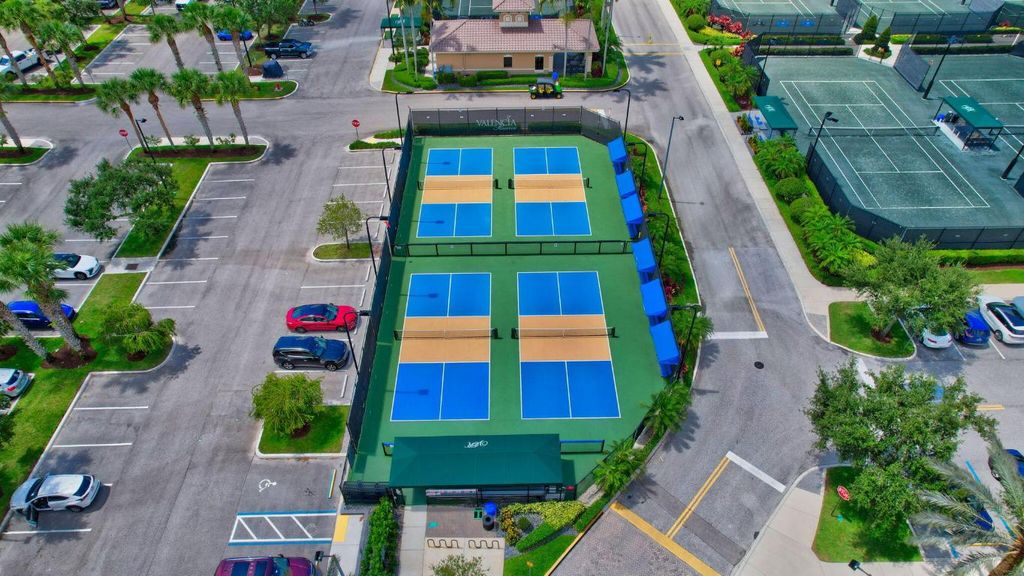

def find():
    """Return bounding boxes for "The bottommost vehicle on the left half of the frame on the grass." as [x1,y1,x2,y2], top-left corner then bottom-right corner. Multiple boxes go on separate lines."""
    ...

[0,369,44,403]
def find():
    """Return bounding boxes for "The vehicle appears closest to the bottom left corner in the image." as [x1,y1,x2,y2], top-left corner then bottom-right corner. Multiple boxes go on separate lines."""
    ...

[7,472,107,531]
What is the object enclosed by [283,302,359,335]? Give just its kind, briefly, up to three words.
car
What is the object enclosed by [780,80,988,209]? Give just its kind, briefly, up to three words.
tennis court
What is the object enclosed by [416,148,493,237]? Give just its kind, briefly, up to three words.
sports court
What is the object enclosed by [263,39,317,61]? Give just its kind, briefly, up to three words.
truck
